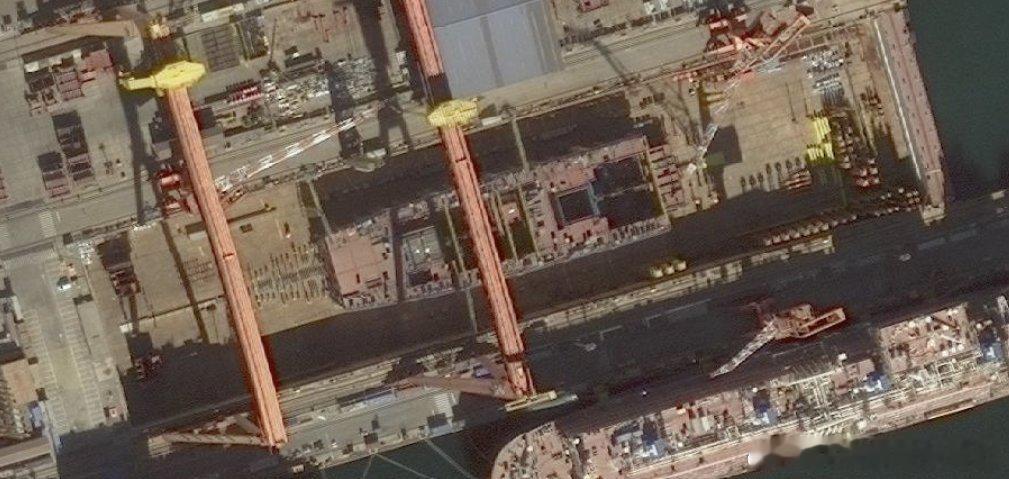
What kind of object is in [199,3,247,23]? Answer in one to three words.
shed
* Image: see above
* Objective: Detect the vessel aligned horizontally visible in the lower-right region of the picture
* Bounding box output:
[491,286,1009,479]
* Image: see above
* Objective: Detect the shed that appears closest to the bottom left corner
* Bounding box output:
[0,363,40,404]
